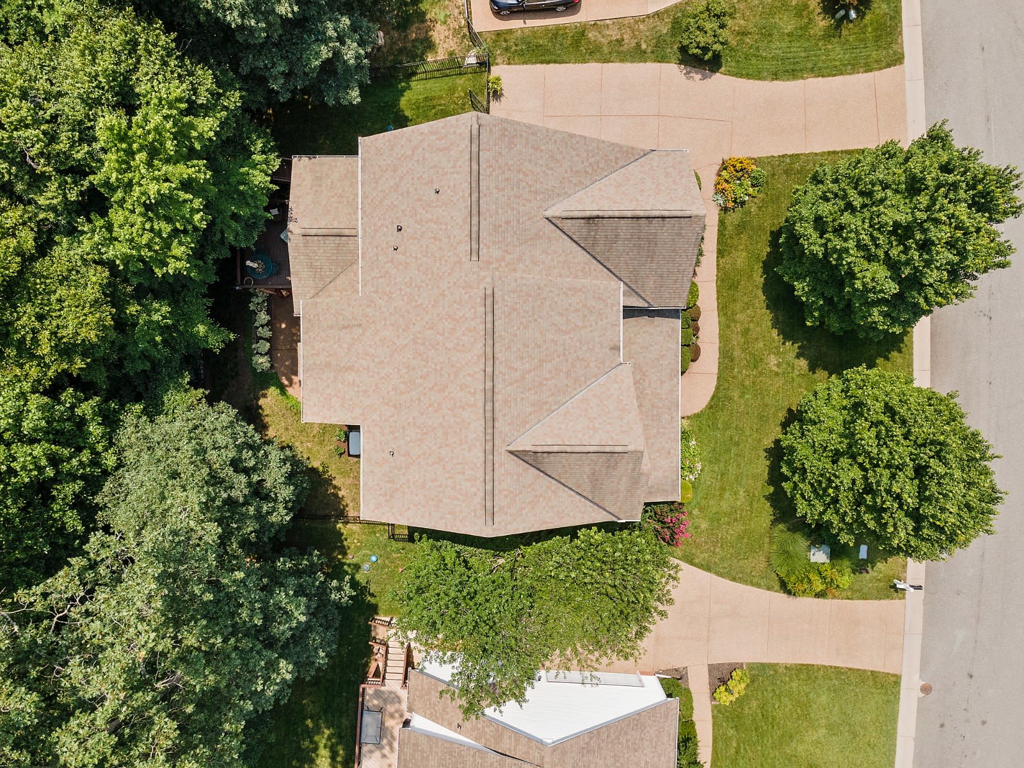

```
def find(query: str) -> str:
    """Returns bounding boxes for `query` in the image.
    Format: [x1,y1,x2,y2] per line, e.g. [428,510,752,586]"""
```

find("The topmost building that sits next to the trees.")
[284,112,706,534]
